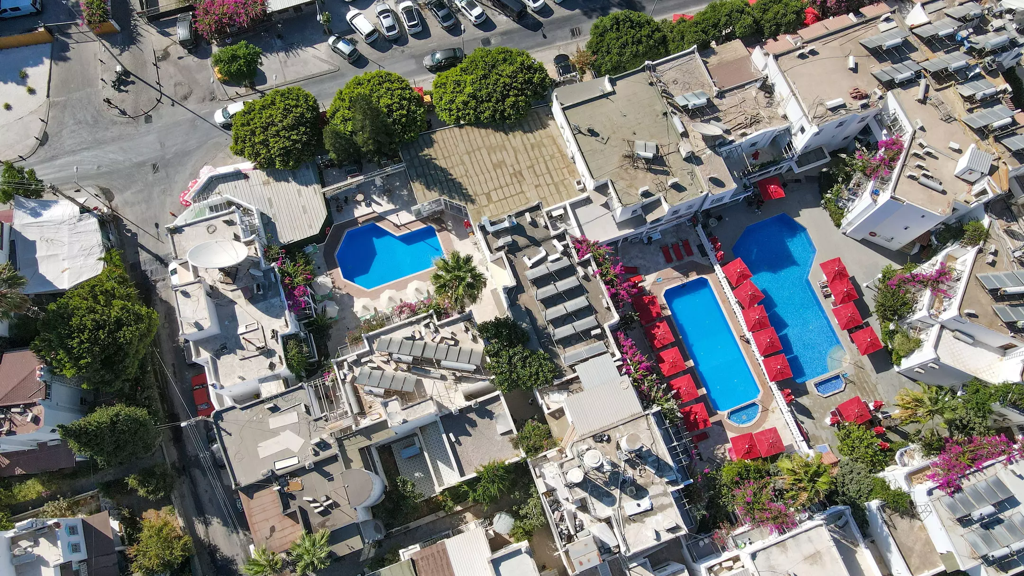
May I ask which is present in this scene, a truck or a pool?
pool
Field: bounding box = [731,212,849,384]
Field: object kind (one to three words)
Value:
swimming pool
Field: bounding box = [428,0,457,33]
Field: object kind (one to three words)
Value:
car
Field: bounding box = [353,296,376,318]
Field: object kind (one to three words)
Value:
umbrella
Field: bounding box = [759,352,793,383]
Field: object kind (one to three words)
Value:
umbrella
